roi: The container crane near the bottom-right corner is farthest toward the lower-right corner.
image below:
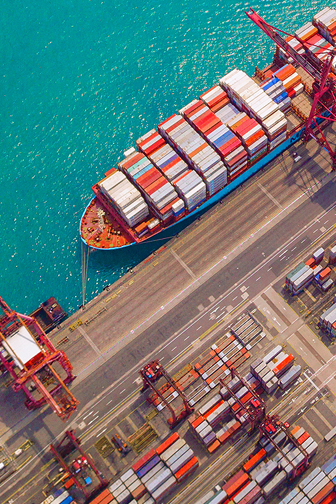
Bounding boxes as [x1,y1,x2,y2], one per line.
[253,413,312,486]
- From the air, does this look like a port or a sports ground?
port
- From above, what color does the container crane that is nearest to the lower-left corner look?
red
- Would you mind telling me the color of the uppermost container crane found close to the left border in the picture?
red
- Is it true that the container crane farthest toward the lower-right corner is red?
Yes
